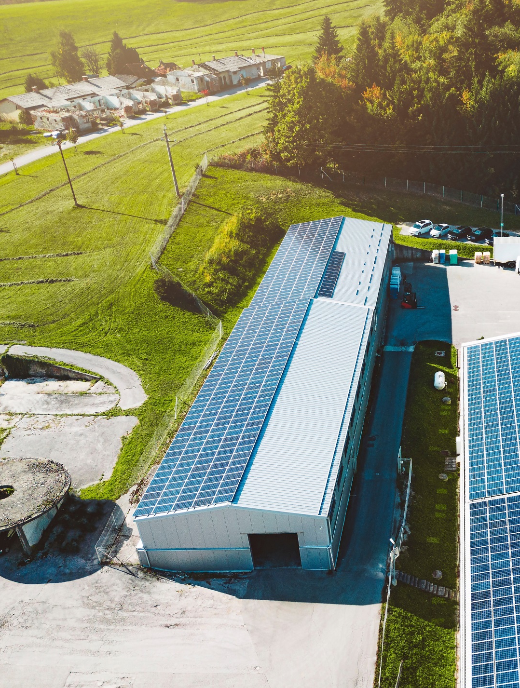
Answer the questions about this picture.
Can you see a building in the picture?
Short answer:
Yes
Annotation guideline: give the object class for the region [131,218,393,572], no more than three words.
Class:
building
